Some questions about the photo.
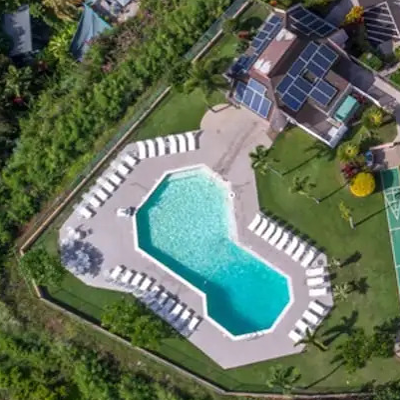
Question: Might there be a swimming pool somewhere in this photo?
Yes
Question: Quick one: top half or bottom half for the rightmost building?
top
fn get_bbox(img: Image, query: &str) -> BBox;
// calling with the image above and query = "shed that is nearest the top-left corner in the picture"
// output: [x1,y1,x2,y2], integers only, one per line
[3,5,42,60]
